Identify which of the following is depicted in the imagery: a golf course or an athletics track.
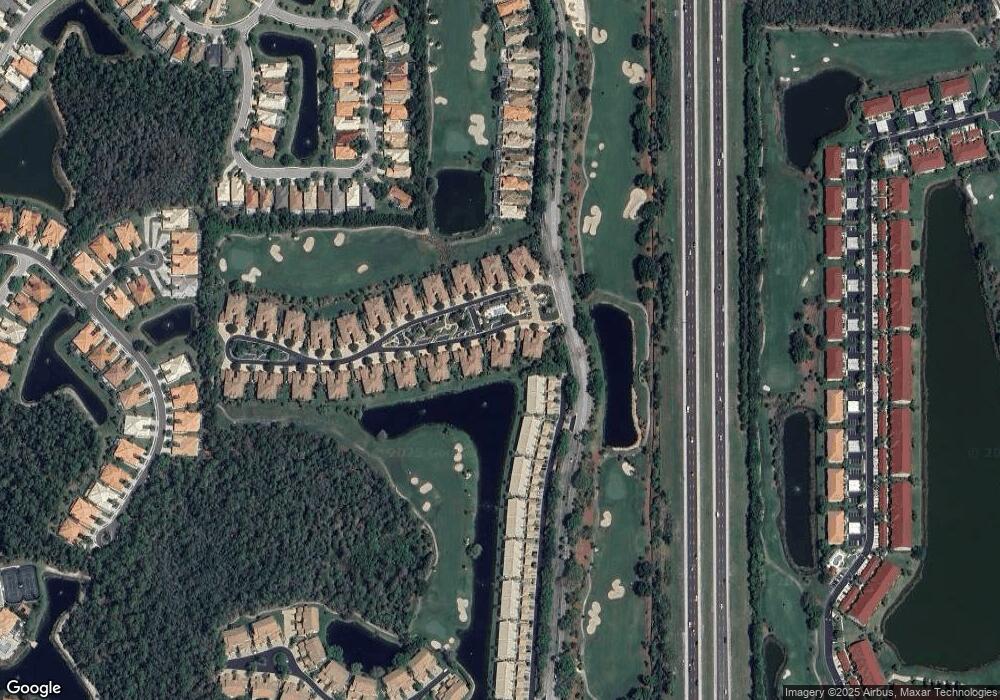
golf course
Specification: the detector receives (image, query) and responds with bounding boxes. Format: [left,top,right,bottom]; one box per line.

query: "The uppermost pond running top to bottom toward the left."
[260,32,318,159]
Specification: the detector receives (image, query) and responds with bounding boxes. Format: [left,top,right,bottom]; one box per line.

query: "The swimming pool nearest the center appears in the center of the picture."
[486,304,509,318]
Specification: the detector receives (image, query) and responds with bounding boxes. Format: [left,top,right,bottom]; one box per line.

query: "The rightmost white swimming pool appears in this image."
[882,149,902,169]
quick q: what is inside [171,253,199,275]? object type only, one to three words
house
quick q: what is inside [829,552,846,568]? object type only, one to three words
swimming pool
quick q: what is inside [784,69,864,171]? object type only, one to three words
pond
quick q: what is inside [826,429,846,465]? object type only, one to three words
building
